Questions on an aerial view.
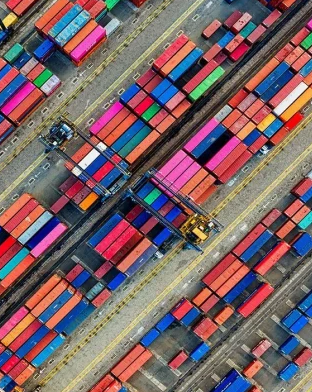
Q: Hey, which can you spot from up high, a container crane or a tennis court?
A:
container crane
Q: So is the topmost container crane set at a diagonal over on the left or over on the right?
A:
left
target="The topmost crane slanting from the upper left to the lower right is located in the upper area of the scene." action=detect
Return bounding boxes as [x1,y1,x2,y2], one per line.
[37,112,133,198]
